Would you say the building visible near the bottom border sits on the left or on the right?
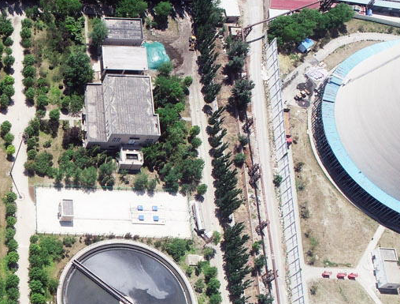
right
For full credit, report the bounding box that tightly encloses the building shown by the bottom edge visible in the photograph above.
[371,248,400,289]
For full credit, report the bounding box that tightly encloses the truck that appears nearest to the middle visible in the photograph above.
[189,201,210,243]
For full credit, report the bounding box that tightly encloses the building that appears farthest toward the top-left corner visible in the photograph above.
[101,16,143,46]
